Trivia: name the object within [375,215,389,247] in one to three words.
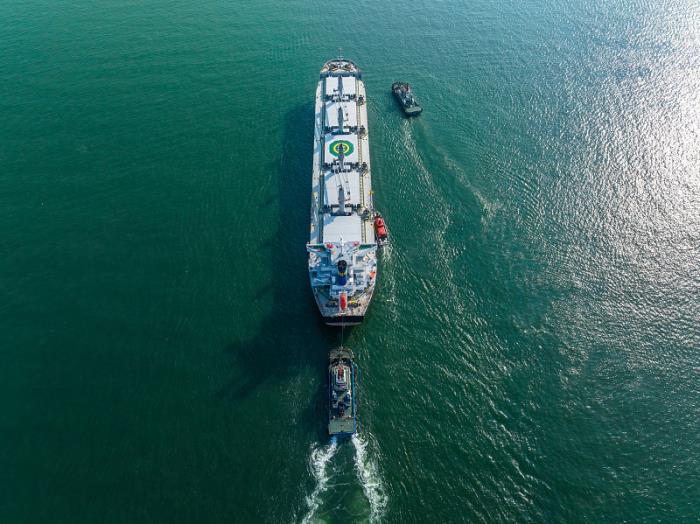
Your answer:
boat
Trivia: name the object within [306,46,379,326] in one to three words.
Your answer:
ship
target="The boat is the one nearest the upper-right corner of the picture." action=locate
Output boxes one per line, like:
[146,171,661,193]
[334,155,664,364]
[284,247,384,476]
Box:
[391,79,422,115]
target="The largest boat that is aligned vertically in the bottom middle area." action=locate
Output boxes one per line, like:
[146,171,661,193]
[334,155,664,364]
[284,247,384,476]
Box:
[327,346,358,436]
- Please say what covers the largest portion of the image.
water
